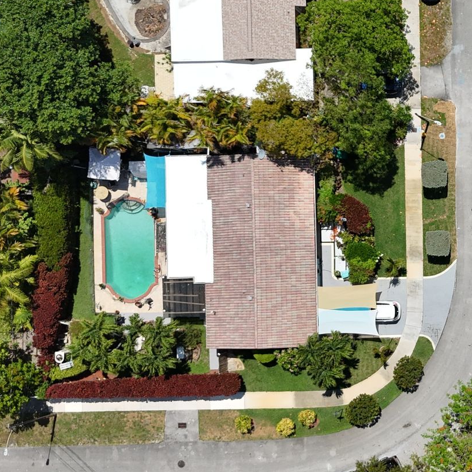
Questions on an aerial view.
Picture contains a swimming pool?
Yes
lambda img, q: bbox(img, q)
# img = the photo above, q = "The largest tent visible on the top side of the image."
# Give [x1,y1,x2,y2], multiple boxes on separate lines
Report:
[88,147,131,183]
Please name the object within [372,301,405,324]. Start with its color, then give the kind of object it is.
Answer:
white car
